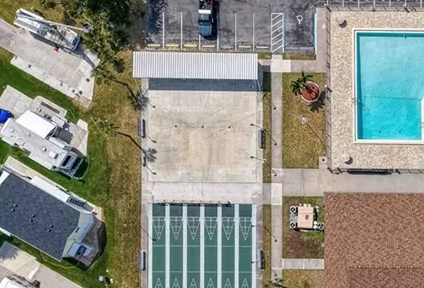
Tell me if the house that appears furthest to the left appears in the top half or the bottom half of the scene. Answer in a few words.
bottom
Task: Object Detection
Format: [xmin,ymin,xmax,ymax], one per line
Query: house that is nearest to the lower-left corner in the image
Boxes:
[0,171,103,261]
